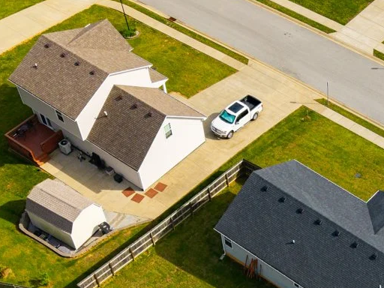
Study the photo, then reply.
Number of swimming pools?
0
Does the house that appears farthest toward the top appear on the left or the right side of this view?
left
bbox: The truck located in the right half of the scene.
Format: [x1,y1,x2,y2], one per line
[208,96,266,141]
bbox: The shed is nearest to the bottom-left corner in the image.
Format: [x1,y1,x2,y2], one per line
[24,179,106,250]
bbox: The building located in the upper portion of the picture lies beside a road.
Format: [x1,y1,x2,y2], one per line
[7,19,209,194]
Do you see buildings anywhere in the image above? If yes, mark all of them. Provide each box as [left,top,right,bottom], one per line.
[214,161,384,288]
[7,19,209,194]
[24,179,106,250]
